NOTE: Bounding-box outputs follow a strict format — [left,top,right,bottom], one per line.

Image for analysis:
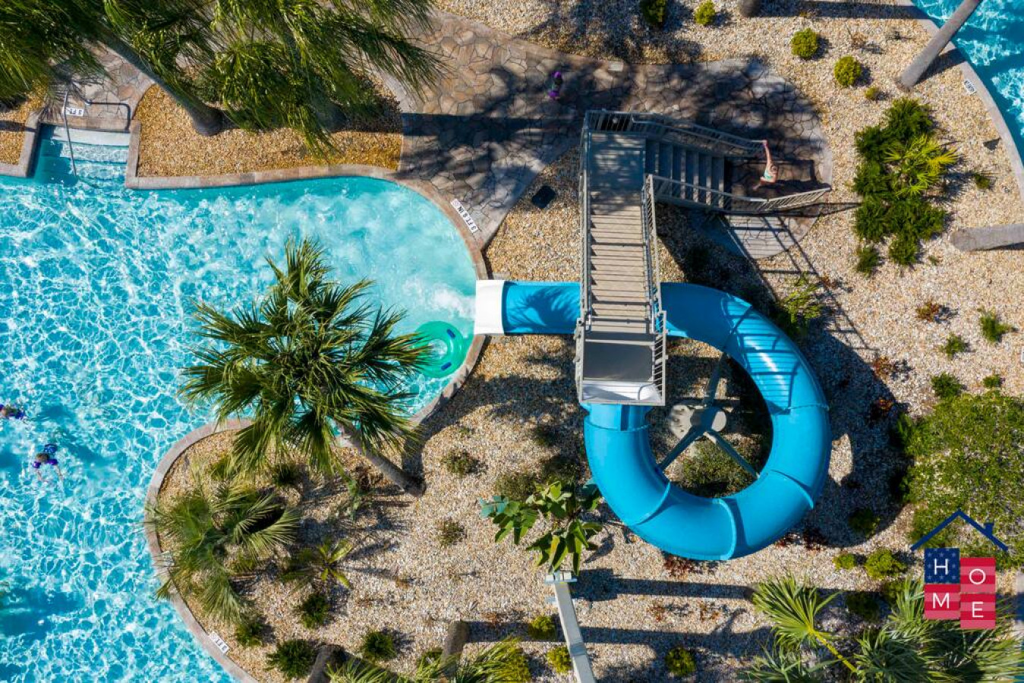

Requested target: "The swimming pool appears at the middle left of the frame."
[0,127,476,683]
